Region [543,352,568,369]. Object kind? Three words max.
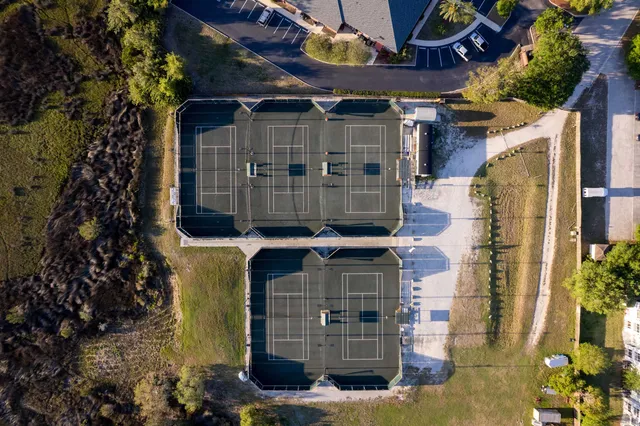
shed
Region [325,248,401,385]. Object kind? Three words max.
tennis court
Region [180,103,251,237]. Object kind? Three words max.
tennis court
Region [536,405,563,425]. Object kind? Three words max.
shed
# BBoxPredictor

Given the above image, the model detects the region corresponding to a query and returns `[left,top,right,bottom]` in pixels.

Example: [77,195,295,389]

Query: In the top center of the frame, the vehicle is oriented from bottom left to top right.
[258,9,273,26]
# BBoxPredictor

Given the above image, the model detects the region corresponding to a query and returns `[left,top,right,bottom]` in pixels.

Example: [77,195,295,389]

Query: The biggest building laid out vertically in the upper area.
[416,121,433,177]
